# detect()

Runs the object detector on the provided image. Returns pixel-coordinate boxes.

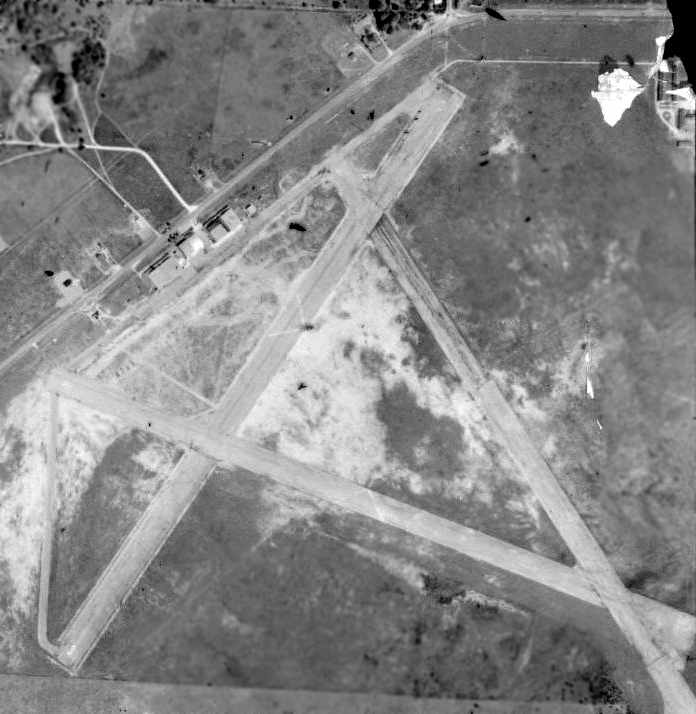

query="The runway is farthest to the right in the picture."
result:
[475,373,696,714]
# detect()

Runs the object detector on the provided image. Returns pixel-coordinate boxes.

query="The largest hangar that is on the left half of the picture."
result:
[149,257,181,288]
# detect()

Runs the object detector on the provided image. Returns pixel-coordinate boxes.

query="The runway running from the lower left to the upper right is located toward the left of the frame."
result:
[60,85,461,667]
